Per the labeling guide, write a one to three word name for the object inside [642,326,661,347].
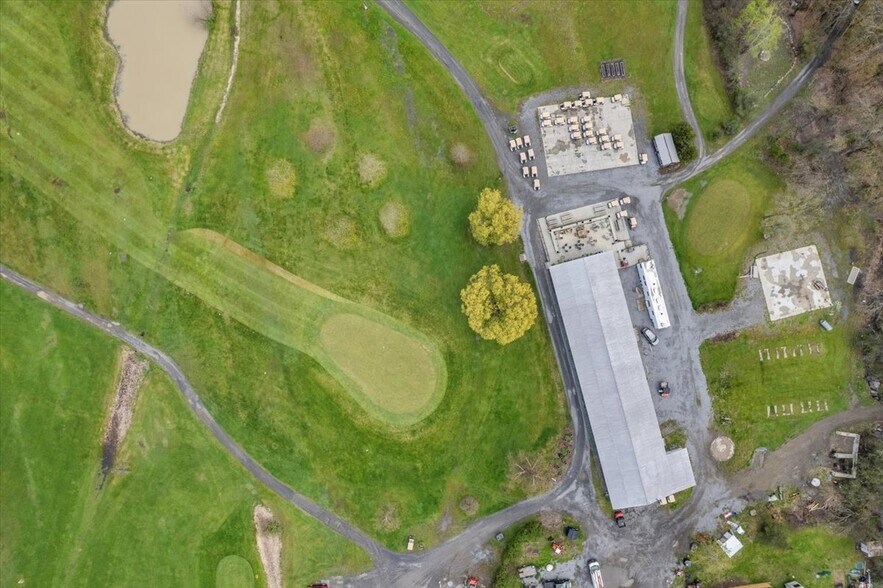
car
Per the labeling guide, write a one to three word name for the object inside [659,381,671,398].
vehicle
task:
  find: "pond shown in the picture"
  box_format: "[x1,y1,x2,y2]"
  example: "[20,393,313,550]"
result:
[108,0,212,142]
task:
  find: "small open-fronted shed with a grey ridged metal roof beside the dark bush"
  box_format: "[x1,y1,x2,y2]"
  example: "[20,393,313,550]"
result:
[652,133,679,167]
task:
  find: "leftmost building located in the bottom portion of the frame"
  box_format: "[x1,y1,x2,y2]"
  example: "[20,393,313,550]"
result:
[548,250,696,509]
